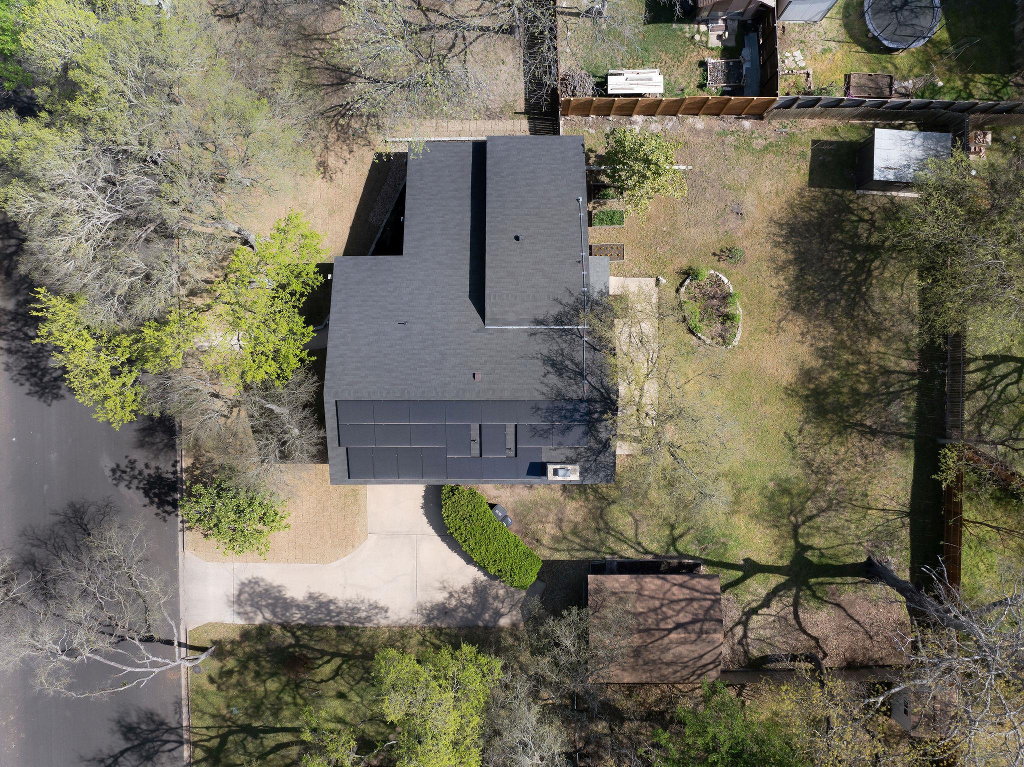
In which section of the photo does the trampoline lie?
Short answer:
top right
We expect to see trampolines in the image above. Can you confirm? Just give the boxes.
[858,0,961,58]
